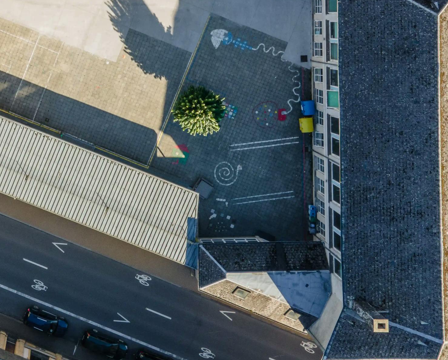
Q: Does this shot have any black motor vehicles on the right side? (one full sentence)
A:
No, no black motor vehicle is visible on the right side.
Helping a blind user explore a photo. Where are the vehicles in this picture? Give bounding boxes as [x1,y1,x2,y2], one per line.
[77,326,133,360]
[18,302,73,340]
[130,345,177,360]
